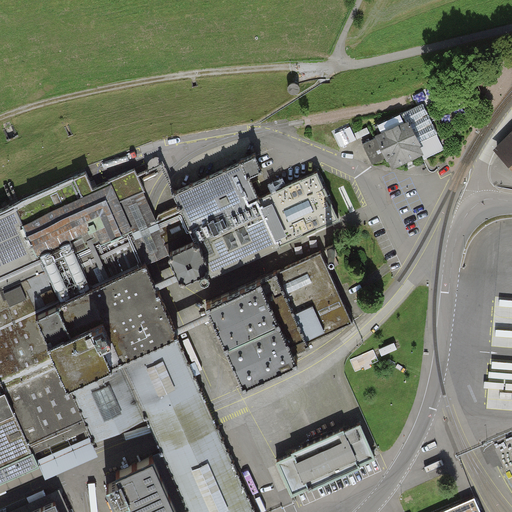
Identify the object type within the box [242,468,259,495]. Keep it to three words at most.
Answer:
vehicle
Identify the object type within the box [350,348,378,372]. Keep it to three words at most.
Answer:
shed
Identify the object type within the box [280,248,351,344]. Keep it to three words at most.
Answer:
building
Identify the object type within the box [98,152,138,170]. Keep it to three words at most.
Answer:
vehicle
